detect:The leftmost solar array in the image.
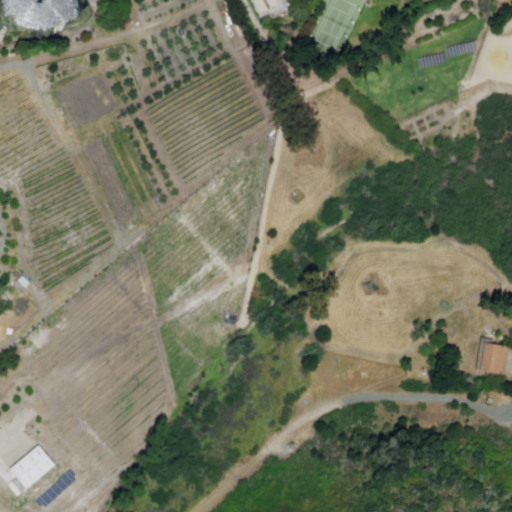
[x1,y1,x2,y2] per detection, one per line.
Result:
[37,471,76,507]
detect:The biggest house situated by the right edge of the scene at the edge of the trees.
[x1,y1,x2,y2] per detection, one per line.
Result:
[476,339,510,374]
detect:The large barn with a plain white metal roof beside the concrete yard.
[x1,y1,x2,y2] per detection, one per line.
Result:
[9,444,55,494]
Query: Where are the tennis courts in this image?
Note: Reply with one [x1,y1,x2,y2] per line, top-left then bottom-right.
[307,0,370,58]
